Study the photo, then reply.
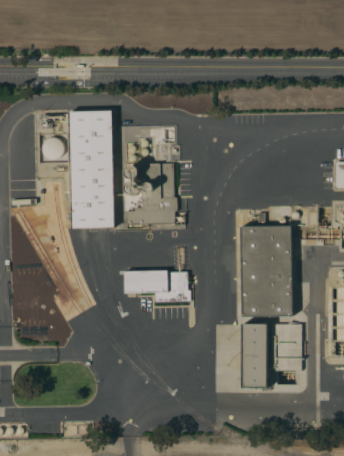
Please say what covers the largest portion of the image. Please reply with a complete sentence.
The largest share of the image is taken up by paved ground.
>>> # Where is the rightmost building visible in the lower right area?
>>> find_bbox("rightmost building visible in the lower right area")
[274,324,306,370]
